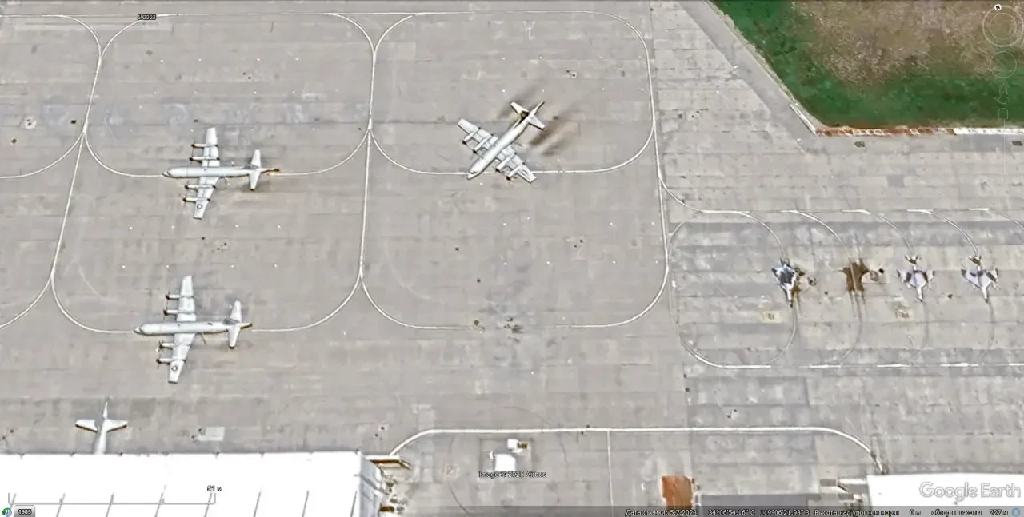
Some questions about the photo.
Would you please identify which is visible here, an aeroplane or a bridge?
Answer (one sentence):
I can see an aeroplane in this picture.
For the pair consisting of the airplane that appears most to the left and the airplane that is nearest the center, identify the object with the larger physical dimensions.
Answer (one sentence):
Of the two, the airplane that is nearest the center is larger and the airplane that appears most to the left is the smaller one.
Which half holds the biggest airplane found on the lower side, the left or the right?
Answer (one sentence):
It is on the left.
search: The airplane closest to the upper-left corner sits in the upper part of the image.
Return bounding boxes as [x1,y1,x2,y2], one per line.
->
[164,124,280,217]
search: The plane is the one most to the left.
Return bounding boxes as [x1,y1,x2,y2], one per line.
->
[76,398,129,460]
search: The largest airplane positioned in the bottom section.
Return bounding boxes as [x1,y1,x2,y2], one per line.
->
[134,275,252,383]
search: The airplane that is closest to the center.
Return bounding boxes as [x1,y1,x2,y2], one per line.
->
[457,101,547,180]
